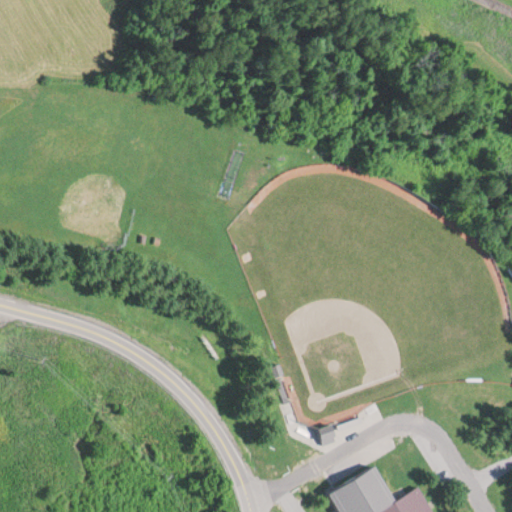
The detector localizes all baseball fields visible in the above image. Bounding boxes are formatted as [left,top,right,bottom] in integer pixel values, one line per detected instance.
[228,164,512,428]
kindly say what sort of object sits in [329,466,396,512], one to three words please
building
